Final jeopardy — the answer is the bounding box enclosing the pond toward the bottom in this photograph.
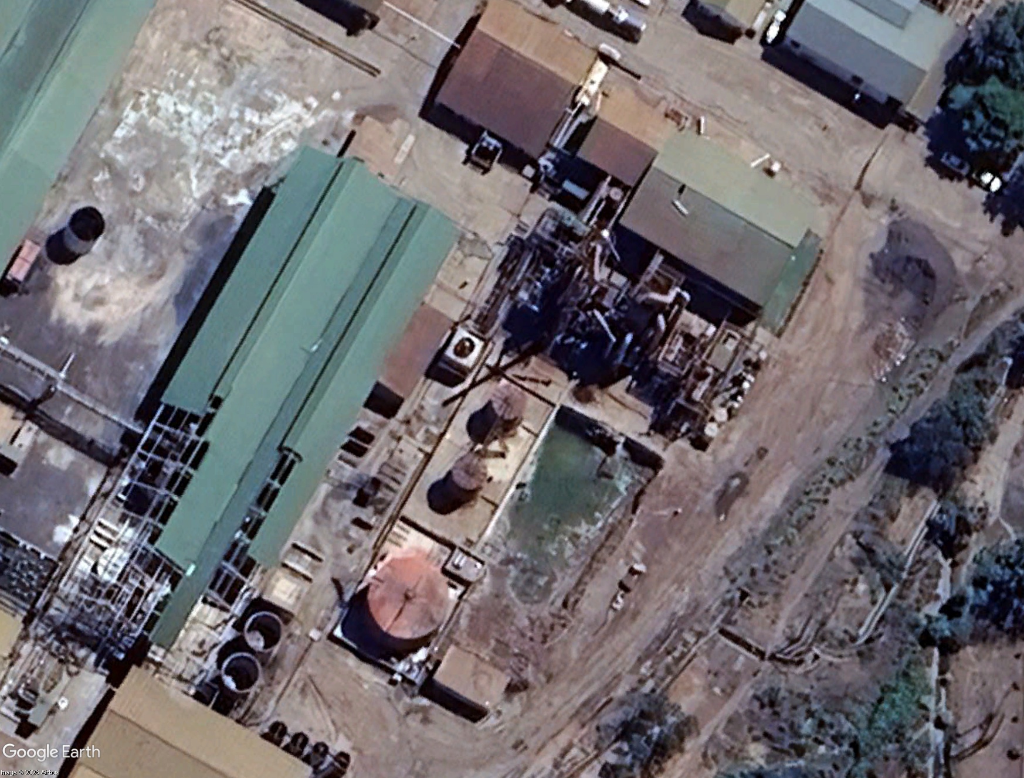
[493,403,666,571]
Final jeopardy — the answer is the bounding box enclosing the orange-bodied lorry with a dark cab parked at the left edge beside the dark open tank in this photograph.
[0,240,42,292]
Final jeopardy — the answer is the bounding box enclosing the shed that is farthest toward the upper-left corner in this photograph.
[0,0,165,261]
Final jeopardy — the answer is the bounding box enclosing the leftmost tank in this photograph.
[63,207,105,253]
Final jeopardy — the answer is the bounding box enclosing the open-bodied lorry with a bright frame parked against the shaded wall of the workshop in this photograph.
[467,132,501,175]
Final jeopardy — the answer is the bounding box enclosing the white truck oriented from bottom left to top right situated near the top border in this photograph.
[762,10,789,45]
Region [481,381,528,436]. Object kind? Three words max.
storage tank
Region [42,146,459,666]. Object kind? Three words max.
building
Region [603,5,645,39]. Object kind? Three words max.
truck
